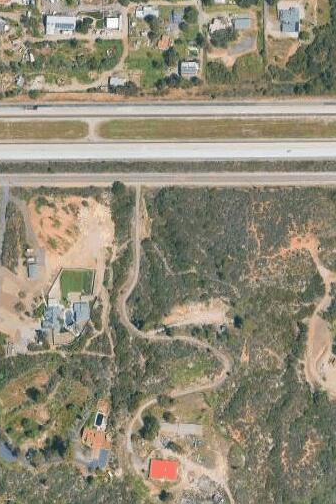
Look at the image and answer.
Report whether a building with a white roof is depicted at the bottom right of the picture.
No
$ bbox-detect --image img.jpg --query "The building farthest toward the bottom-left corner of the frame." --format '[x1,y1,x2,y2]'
[83,430,111,455]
